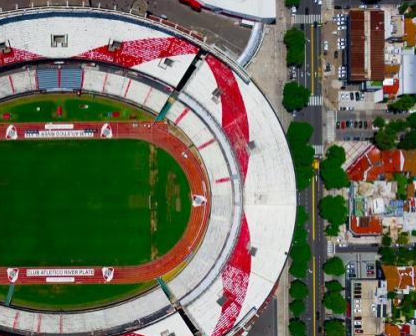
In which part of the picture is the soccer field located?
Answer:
left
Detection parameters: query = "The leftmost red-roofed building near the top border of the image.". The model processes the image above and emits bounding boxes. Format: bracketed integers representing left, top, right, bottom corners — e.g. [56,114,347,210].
[344,9,385,82]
